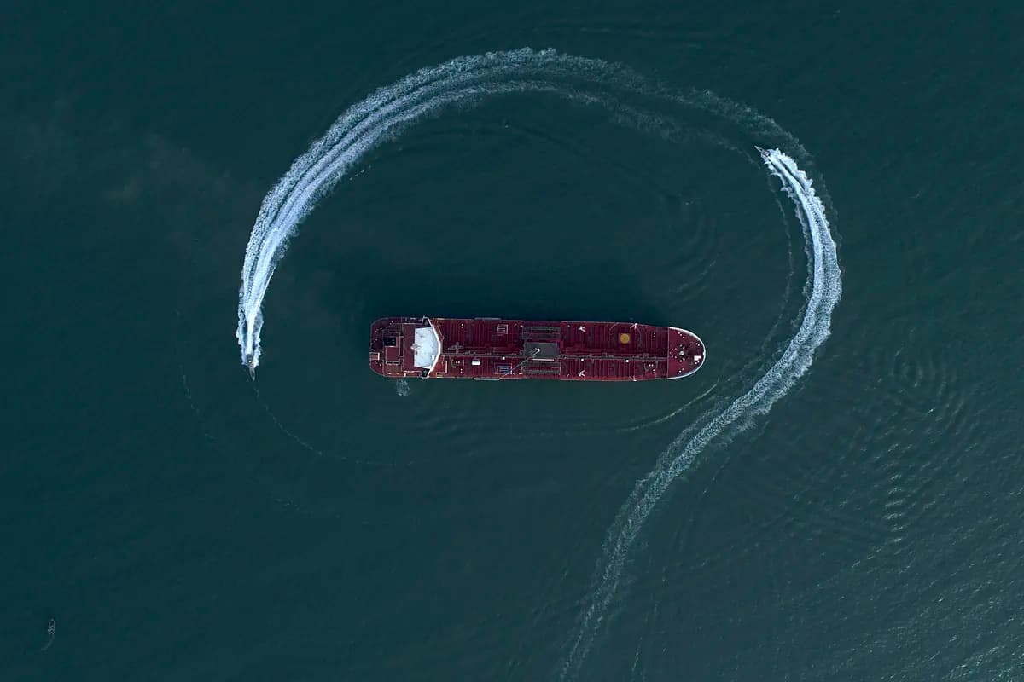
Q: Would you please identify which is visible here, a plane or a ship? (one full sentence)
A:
The image shows a ship.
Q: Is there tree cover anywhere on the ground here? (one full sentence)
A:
No, the picture contains no tree cover.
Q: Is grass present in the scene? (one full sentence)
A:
No, the picture contains no grass.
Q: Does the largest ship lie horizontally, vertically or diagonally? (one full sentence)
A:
The largest ship is laid out horizontally.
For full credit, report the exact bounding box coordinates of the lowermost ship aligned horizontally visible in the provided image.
[369,316,705,381]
